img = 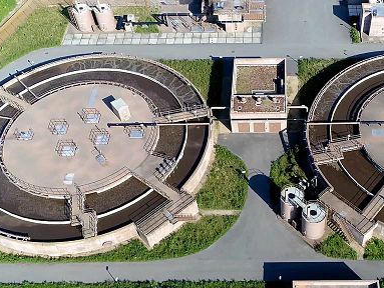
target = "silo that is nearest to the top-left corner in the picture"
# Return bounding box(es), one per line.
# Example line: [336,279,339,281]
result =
[72,0,98,30]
